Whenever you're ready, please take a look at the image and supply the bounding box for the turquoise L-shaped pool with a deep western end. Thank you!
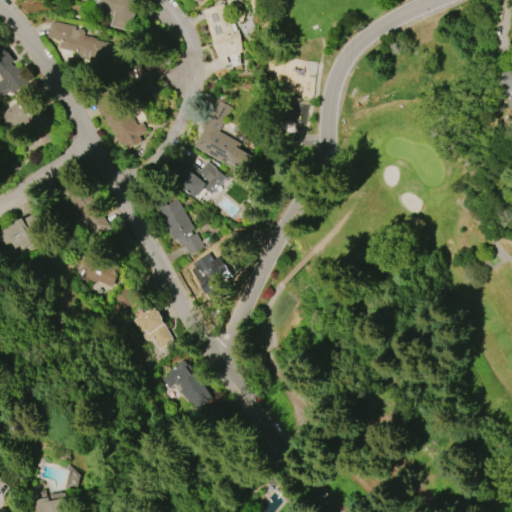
[38,462,70,492]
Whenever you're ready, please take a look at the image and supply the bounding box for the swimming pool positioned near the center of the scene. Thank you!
[212,191,245,221]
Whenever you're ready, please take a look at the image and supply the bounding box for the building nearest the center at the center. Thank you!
[187,252,234,294]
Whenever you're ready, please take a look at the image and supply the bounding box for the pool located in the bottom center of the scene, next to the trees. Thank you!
[264,484,288,512]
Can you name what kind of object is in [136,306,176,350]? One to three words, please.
house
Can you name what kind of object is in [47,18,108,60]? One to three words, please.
house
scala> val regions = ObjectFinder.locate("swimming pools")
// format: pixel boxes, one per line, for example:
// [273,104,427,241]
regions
[212,191,245,221]
[264,484,288,512]
[38,462,70,492]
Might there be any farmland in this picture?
No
